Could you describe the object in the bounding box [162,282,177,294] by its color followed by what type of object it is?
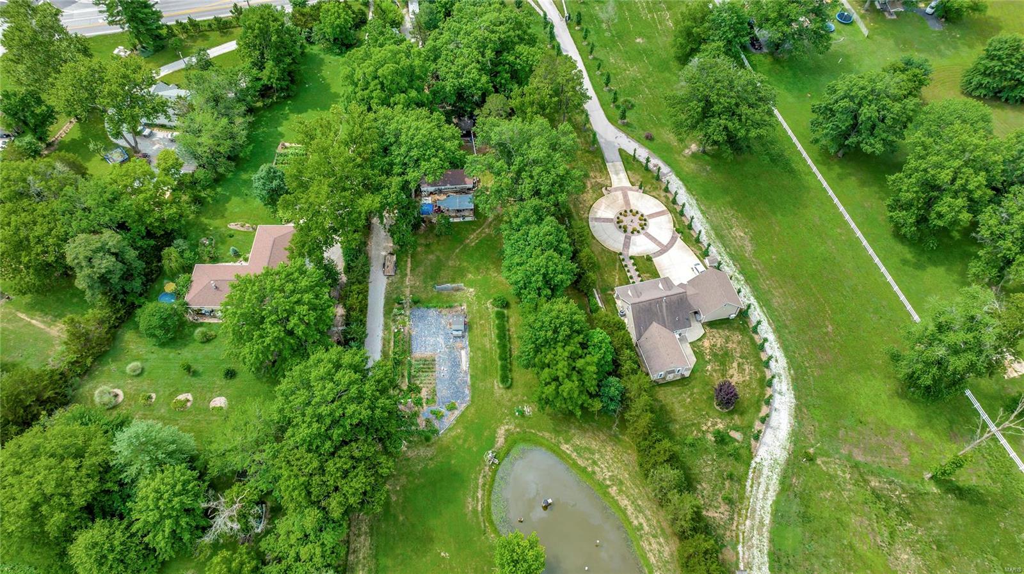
yellow umbrella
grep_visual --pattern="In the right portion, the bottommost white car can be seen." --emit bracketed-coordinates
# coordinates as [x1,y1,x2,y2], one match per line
[687,259,703,277]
